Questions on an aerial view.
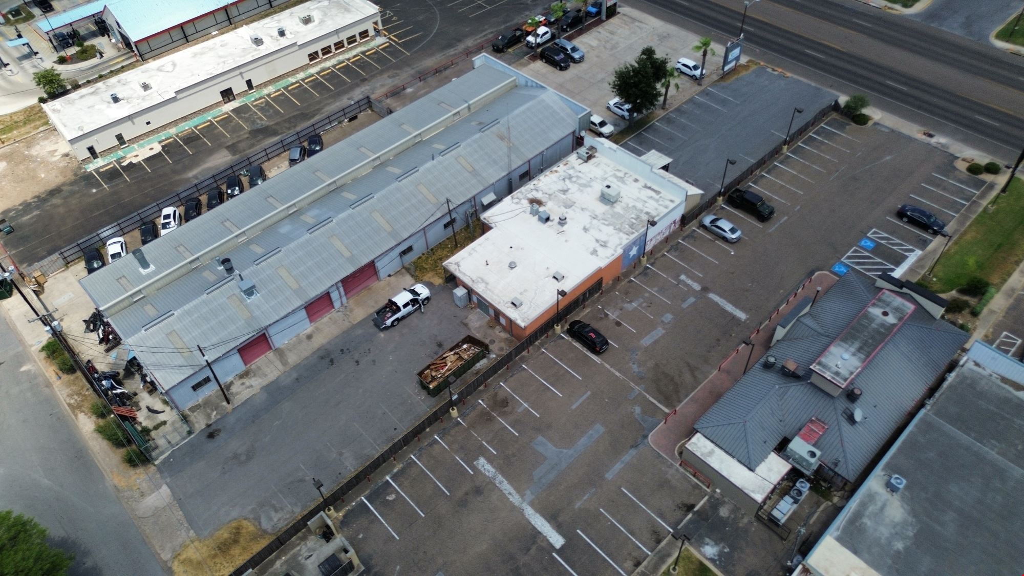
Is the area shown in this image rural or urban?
urban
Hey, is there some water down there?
No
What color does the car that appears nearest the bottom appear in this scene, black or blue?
black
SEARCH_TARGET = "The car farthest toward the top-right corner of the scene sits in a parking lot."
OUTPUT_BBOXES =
[899,202,948,232]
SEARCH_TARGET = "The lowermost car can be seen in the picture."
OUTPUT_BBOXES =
[566,315,613,354]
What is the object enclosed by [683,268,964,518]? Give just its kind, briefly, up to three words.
building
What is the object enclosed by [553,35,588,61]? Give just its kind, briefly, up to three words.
car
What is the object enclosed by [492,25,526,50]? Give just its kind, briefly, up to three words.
truck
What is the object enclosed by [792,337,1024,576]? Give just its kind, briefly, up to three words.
building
